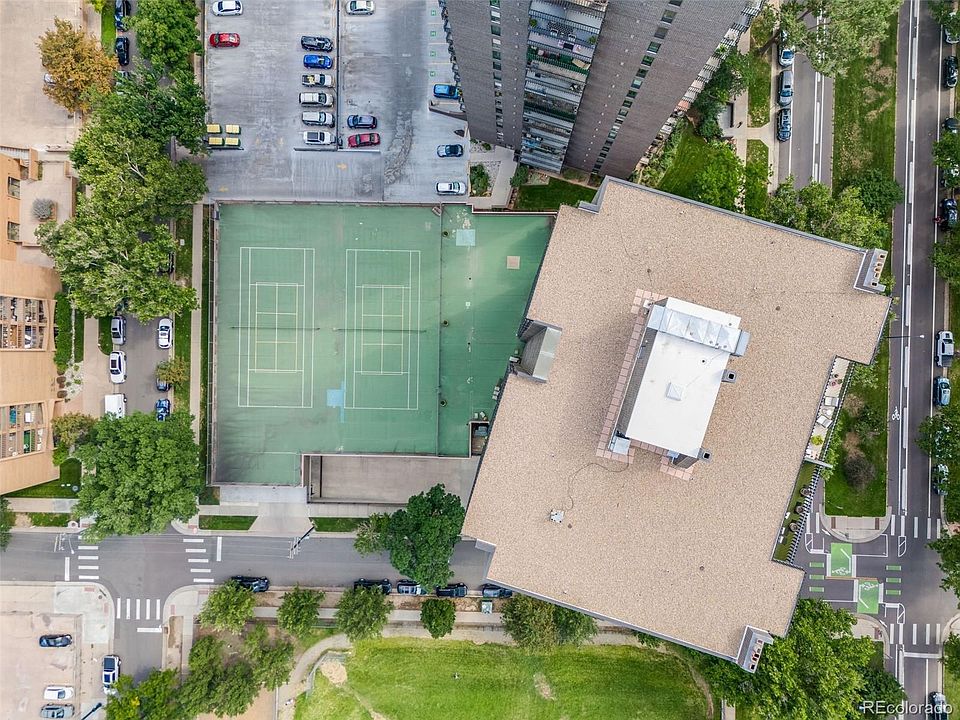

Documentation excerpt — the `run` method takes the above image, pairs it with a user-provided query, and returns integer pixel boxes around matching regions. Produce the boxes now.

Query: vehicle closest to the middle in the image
[435,179,467,195]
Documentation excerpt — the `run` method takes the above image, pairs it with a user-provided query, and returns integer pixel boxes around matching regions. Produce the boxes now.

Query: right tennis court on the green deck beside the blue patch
[335,247,426,412]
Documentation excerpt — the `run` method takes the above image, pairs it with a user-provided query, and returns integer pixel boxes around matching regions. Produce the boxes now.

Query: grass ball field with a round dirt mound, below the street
[291,637,700,720]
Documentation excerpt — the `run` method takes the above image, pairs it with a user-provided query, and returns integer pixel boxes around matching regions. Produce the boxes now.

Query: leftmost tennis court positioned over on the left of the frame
[232,245,321,411]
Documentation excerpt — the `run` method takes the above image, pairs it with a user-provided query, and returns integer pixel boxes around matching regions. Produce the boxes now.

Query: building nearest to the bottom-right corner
[458,174,892,671]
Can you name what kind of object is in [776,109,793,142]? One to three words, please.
car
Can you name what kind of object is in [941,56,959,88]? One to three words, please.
car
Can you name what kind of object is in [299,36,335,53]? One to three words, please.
vehicle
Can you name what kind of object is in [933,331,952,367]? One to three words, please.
vehicle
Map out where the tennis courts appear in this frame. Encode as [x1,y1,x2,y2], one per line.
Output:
[335,247,426,412]
[232,245,321,411]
